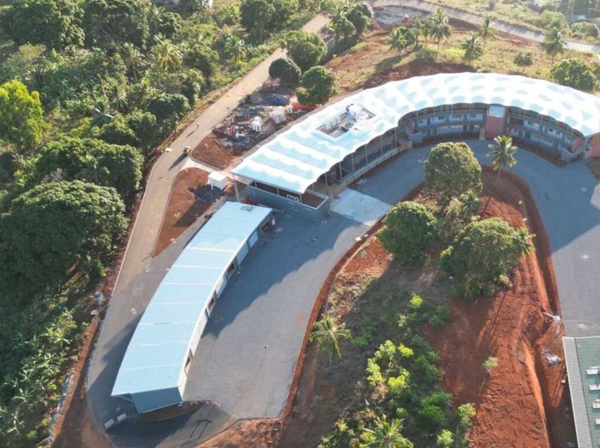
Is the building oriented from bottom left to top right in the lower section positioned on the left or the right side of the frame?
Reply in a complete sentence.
You can find the building oriented from bottom left to top right in the lower section on the left side of the picture.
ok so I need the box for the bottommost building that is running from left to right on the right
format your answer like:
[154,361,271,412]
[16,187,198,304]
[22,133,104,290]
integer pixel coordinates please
[230,70,600,220]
